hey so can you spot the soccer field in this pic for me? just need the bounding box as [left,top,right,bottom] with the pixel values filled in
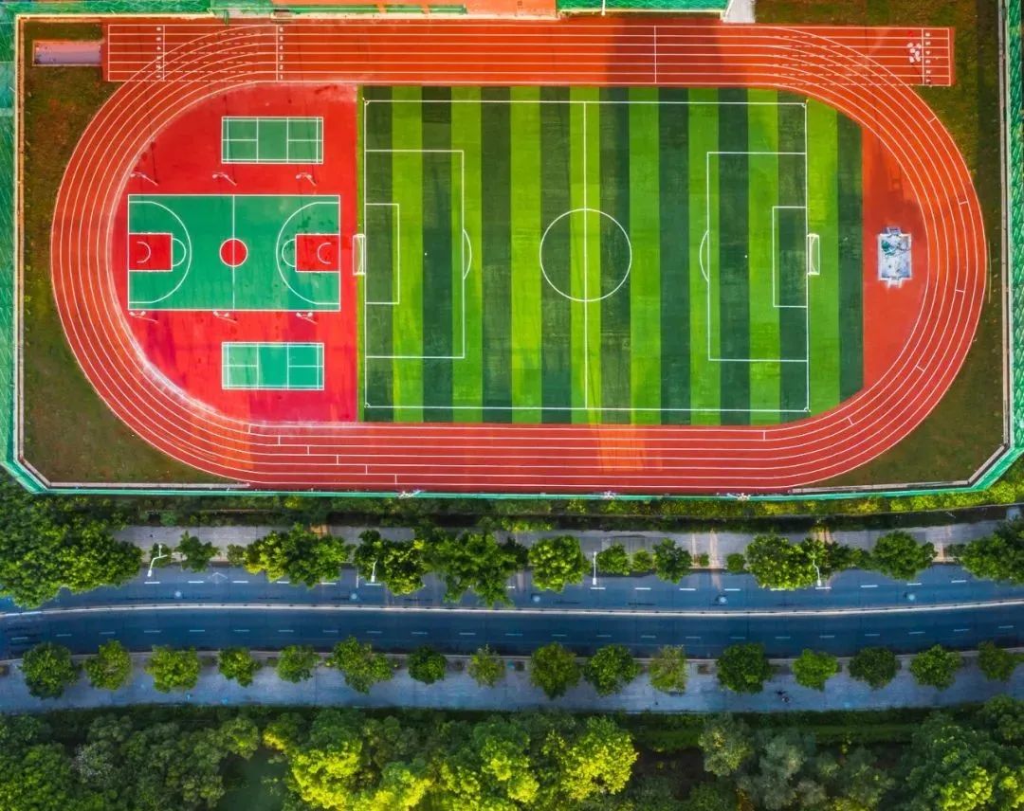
[357,86,863,425]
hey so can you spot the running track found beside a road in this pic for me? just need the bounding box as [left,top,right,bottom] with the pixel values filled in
[50,17,987,491]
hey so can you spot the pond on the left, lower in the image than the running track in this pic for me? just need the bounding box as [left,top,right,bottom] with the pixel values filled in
[225,754,285,811]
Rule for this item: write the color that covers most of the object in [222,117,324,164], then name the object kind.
green sports court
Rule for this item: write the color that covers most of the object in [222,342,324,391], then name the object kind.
green sports court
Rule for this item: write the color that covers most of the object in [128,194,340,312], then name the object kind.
green basketball court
